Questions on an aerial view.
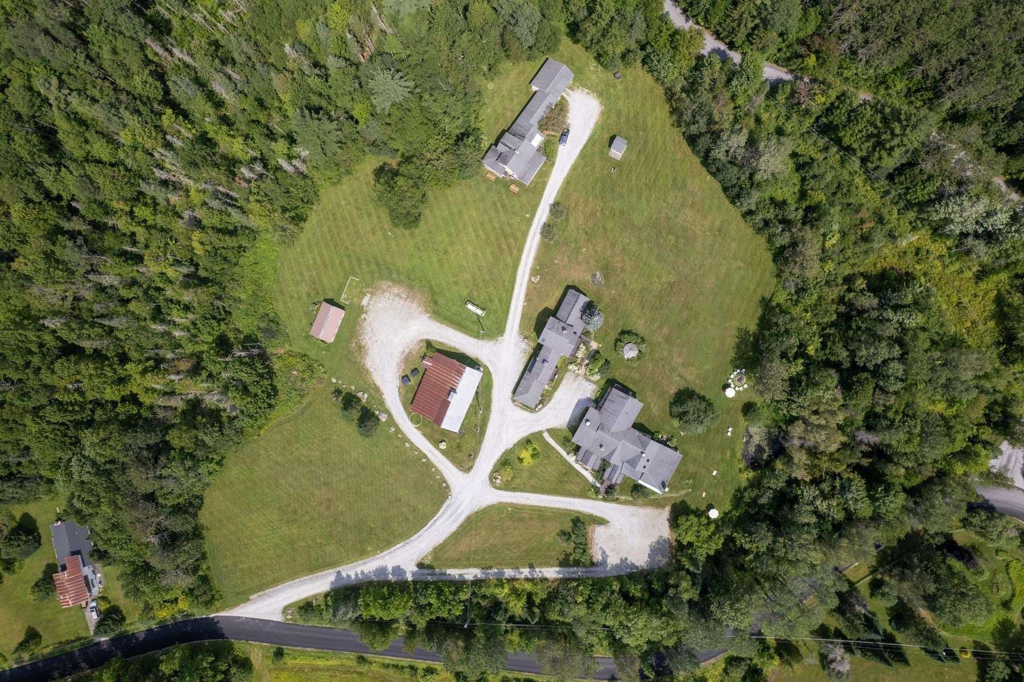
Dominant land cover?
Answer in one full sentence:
What you mostly see from above here is trees.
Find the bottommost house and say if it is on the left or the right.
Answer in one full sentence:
You can find the bottommost house on the left side of the picture.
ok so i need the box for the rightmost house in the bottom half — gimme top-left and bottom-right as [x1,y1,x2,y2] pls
[571,384,683,496]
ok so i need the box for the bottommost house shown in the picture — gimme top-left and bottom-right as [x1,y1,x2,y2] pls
[51,516,104,608]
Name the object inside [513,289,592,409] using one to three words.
house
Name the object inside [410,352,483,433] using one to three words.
barn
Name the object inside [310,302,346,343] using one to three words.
shed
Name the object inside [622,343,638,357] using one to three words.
gazebo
